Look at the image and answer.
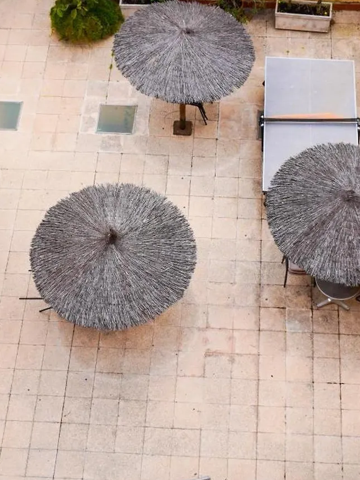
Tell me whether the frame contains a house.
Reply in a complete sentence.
No, I can see no house in this picture.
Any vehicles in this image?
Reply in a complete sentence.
No, the photo shows no vehicle.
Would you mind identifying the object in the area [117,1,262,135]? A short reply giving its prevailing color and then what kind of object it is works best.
gray umbrella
